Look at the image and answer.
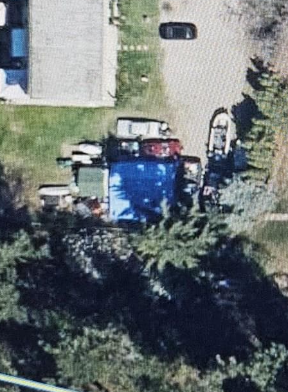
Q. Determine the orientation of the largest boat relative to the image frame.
up and down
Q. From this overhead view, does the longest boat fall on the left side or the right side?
right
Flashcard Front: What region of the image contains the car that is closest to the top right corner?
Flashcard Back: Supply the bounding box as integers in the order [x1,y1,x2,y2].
[160,22,197,40]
